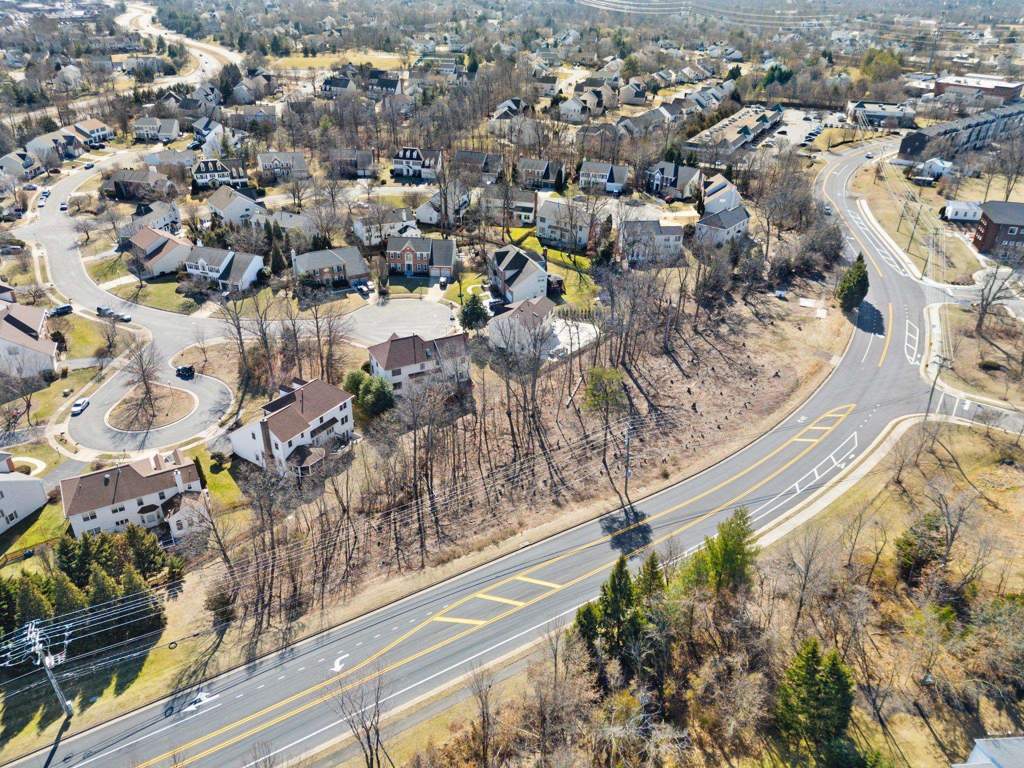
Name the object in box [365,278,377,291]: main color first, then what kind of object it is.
white vehicle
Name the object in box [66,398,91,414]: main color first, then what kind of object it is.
white car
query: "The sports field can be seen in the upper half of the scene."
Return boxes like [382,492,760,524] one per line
[271,57,410,70]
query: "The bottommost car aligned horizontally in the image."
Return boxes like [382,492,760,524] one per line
[170,364,199,377]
